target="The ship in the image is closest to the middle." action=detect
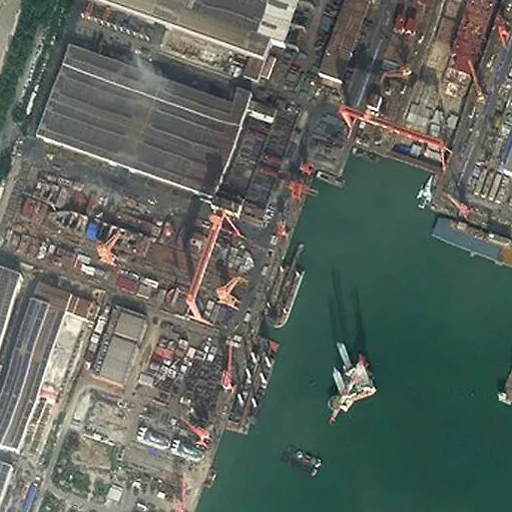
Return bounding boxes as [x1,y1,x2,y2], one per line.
[266,247,303,328]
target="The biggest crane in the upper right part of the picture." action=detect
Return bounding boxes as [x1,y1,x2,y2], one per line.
[341,106,455,172]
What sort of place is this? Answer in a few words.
port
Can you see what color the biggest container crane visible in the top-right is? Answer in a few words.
red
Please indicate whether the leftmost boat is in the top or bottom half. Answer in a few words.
bottom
